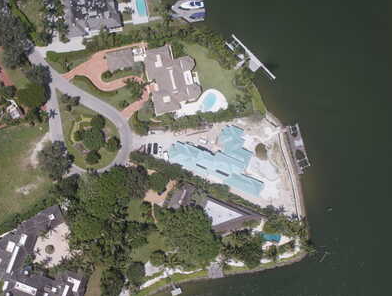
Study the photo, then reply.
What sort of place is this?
residential area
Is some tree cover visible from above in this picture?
Yes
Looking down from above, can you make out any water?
Yes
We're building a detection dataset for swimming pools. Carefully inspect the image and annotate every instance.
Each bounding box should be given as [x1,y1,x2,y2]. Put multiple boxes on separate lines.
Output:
[203,92,217,111]
[261,232,281,243]
[135,0,149,17]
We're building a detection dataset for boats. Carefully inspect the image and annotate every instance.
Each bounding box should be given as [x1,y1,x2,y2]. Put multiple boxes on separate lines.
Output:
[180,0,206,8]
[189,12,207,19]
